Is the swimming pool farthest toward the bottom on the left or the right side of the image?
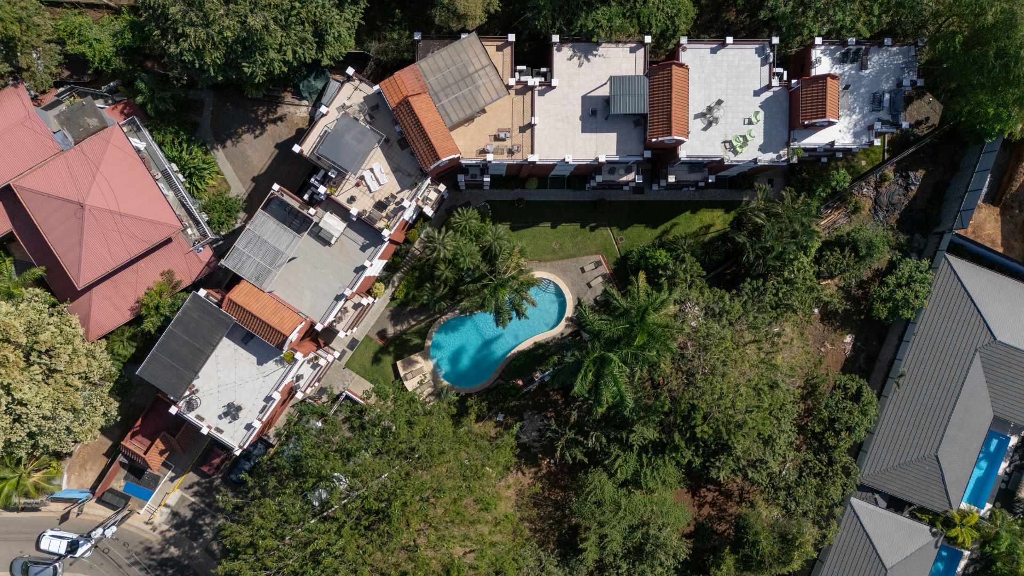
right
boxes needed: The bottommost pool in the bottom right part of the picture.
[928,542,967,576]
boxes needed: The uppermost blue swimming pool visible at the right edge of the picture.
[958,429,1014,513]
